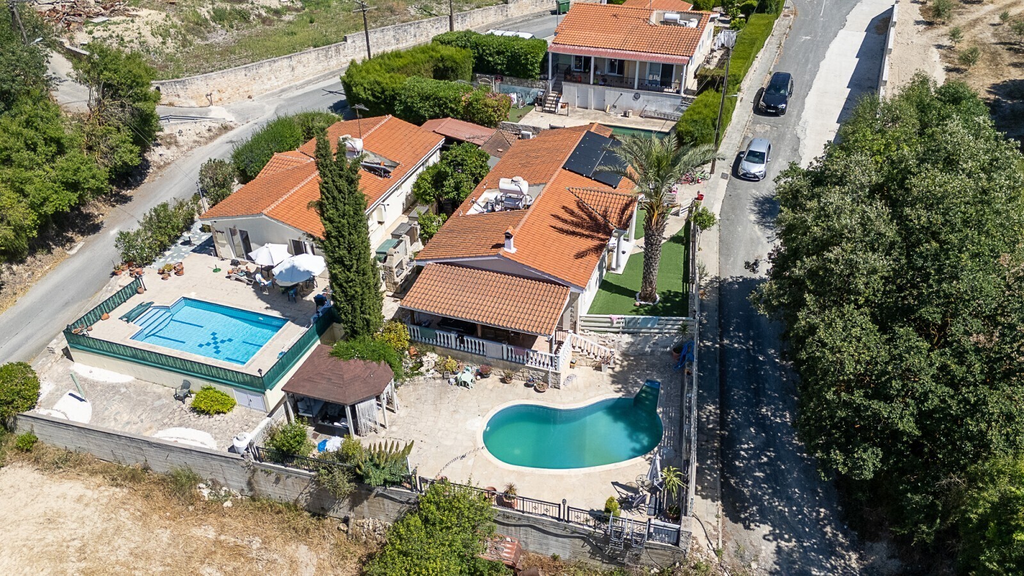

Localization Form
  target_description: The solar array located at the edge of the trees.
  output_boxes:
[568,128,641,183]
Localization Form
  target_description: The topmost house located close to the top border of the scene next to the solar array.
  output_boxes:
[543,0,715,119]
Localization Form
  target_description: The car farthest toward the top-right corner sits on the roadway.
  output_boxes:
[761,69,794,107]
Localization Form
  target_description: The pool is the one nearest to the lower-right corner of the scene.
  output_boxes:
[476,377,671,475]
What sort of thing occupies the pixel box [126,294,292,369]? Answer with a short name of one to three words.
swimming pool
